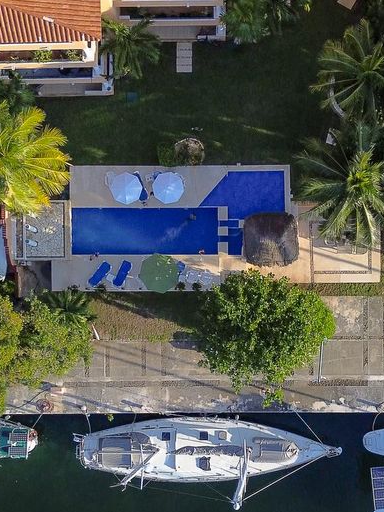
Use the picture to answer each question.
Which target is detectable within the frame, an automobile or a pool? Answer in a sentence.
Visible in the photo is a pool.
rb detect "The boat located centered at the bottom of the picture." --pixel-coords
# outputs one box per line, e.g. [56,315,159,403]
[74,414,343,512]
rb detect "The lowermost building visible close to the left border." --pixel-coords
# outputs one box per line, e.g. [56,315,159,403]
[12,202,74,261]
